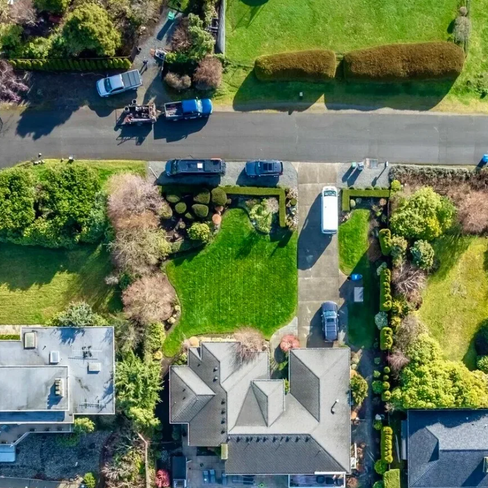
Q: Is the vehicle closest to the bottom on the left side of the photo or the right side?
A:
right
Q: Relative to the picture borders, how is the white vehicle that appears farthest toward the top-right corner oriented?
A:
up and down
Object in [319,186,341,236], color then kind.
white vehicle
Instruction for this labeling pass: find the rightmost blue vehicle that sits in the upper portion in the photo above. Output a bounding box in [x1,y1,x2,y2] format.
[244,157,284,178]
